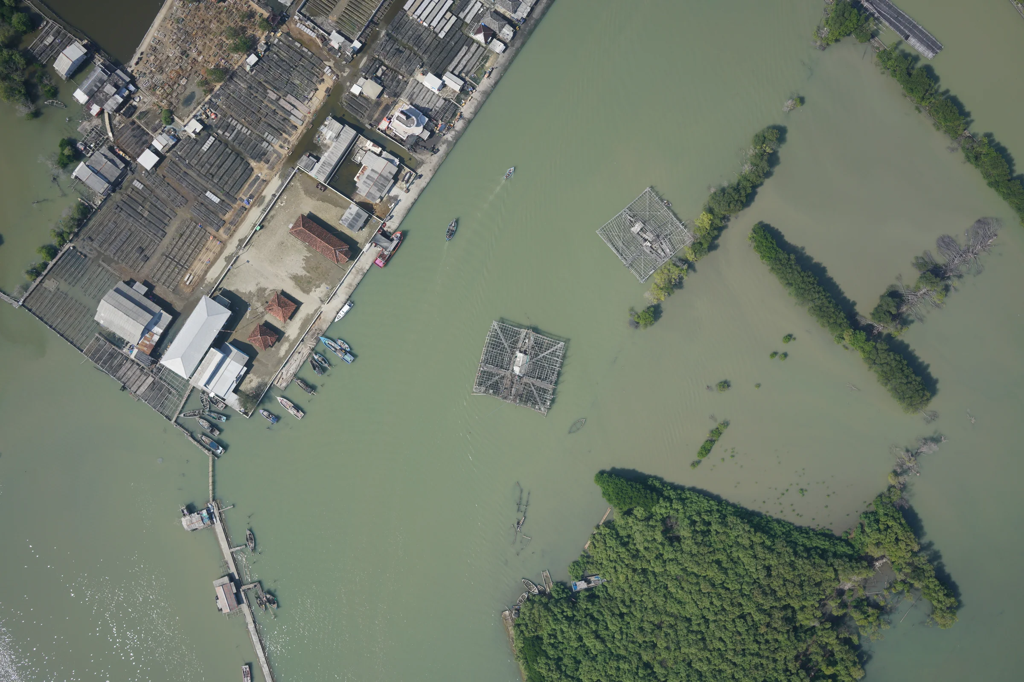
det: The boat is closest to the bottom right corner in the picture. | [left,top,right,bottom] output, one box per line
[572,578,606,591]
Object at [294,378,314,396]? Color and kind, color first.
gray boat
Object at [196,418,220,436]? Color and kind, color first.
gray boat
